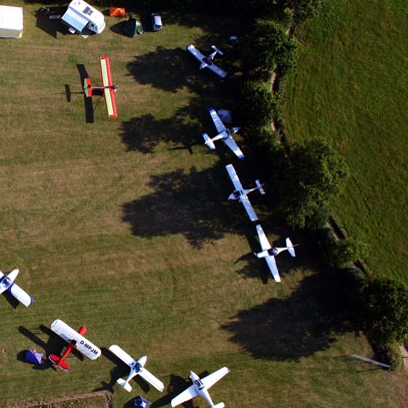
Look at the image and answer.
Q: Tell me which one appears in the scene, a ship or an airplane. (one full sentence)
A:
This aerial view contains an airplane.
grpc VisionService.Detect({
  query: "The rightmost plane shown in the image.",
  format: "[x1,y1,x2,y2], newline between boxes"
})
[249,222,302,283]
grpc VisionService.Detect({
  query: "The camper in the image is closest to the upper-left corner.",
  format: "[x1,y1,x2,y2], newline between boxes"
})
[59,0,107,40]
